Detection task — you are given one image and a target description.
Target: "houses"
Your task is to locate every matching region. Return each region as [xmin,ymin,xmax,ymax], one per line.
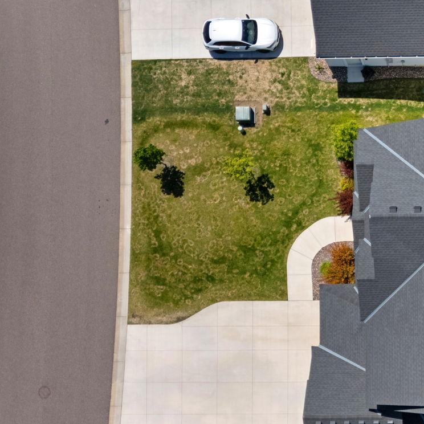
[303,116,424,424]
[310,0,424,82]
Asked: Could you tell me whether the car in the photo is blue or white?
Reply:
white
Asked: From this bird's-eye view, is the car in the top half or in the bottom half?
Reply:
top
